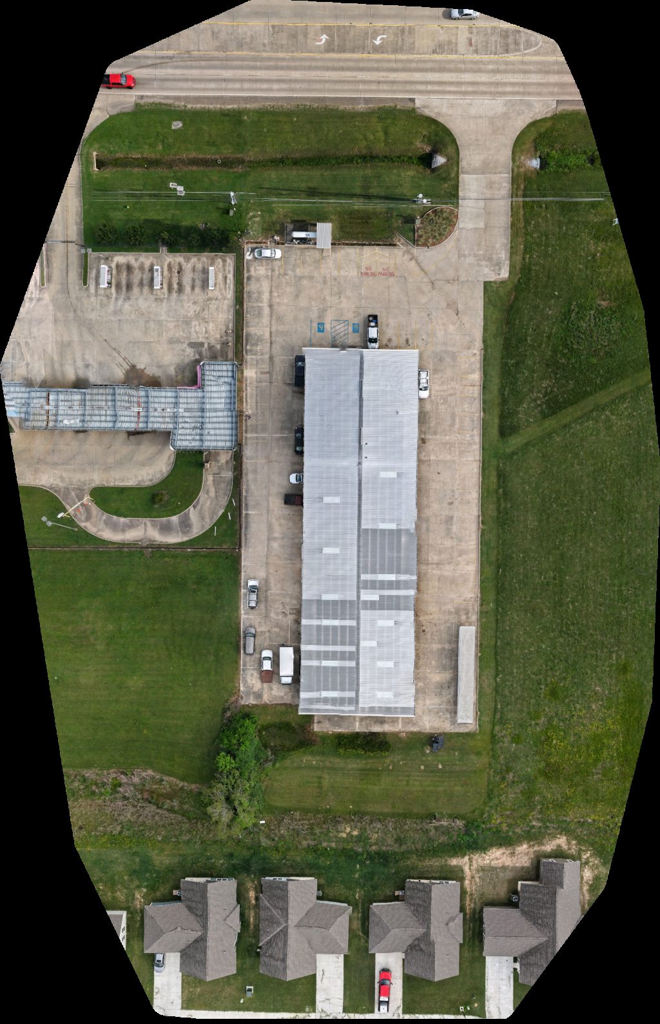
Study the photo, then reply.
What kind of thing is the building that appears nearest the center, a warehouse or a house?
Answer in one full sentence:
I'd identify the building that appears nearest the center as a warehouse.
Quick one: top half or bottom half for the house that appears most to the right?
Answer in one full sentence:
The bottom half of the photo is where the house that appears most to the right is.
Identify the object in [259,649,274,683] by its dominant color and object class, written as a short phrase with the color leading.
white vehicle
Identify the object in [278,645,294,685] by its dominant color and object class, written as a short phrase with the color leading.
white vehicle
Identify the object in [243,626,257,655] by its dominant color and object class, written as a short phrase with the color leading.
gray car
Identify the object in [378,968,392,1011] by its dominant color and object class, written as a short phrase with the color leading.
red vehicle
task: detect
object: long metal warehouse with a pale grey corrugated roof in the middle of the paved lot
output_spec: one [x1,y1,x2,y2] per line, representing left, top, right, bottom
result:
[299,348,419,717]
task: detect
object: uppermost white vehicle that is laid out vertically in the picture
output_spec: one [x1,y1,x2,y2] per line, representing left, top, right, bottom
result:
[365,314,381,349]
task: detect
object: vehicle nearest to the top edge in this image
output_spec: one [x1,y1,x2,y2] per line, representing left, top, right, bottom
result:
[450,8,480,21]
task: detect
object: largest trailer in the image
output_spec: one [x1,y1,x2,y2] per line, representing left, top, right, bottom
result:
[456,625,475,724]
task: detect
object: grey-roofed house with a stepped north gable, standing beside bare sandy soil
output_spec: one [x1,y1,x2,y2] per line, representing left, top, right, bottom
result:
[484,859,584,989]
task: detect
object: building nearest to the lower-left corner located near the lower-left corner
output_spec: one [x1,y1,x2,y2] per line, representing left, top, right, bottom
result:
[108,907,125,948]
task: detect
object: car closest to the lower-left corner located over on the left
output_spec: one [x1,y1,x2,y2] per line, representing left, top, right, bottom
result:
[152,953,165,972]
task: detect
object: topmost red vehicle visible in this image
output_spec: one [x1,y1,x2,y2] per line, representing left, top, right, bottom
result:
[102,72,136,89]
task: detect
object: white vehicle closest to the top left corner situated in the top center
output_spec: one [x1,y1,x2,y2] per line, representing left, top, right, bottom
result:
[253,246,282,260]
